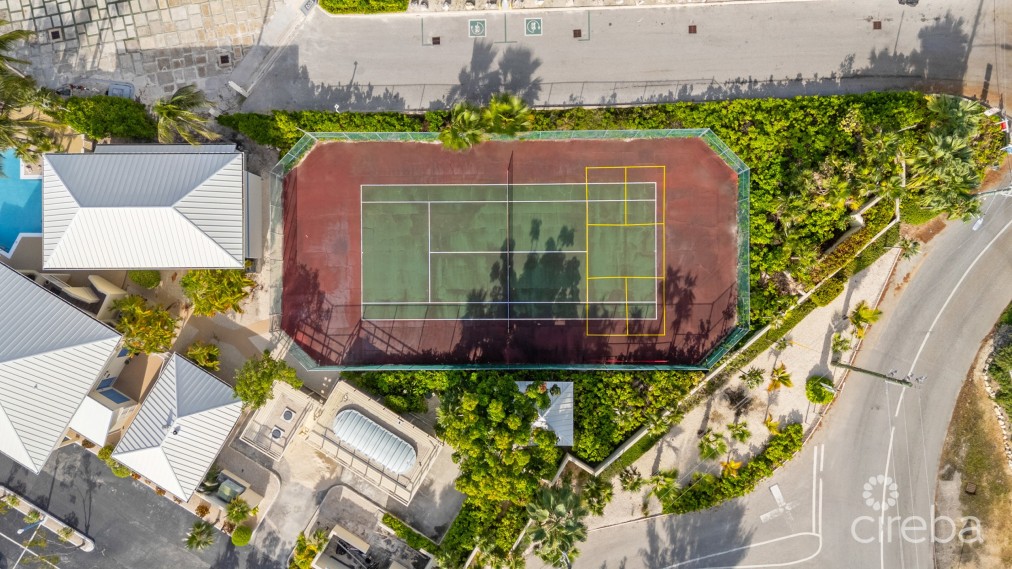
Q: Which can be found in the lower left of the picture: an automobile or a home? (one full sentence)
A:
Visible in the lower left of the picture is a home.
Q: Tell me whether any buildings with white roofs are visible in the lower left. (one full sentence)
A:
Yes, you'll find a building with a white roof in the lower left.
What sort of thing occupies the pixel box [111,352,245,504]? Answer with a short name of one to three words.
house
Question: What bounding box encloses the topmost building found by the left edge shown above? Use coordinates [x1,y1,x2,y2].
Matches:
[41,144,274,272]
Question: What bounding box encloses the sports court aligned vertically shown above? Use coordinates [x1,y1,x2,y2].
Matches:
[586,166,666,335]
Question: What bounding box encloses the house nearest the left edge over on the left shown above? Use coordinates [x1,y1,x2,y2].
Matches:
[0,253,135,474]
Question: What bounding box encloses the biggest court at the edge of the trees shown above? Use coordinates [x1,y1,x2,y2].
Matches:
[280,136,739,367]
